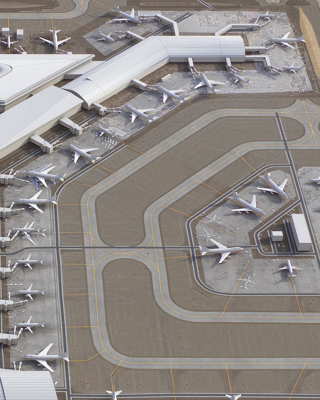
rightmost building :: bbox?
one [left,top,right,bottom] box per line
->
[291,213,312,251]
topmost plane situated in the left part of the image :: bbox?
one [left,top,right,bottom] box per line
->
[110,2,141,24]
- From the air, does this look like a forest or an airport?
airport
